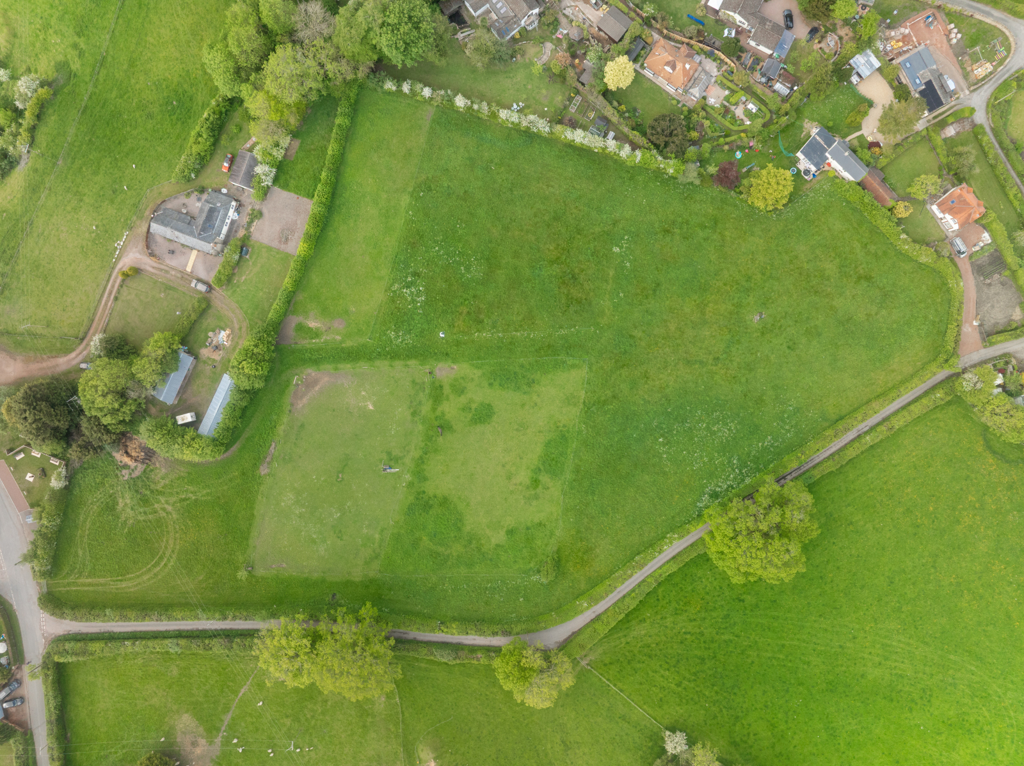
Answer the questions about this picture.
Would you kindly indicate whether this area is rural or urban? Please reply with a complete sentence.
The area shown here is rural.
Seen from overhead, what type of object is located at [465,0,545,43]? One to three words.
house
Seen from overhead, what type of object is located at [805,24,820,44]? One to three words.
car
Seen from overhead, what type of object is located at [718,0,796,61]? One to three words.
house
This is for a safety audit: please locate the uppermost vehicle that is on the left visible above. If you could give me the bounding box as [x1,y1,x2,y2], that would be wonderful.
[222,154,234,172]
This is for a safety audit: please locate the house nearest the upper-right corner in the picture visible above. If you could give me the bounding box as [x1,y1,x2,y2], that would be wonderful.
[898,47,955,115]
